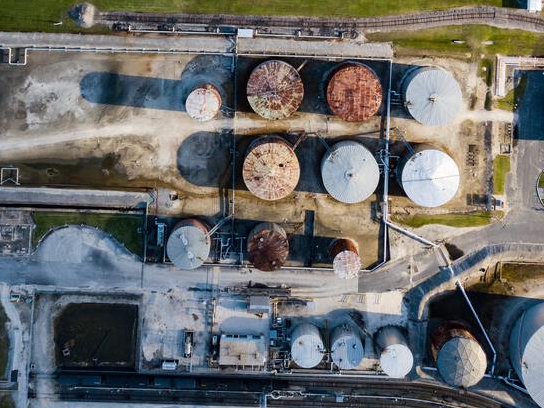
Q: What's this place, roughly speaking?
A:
industrial area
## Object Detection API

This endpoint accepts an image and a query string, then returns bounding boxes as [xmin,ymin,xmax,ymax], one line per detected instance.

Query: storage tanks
[399,64,463,126]
[373,324,414,378]
[242,133,302,198]
[329,237,361,279]
[428,318,488,389]
[167,216,213,270]
[318,136,379,202]
[247,221,290,272]
[246,57,307,119]
[509,301,544,407]
[396,141,459,207]
[186,79,226,122]
[290,319,326,367]
[328,319,364,368]
[324,61,383,121]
